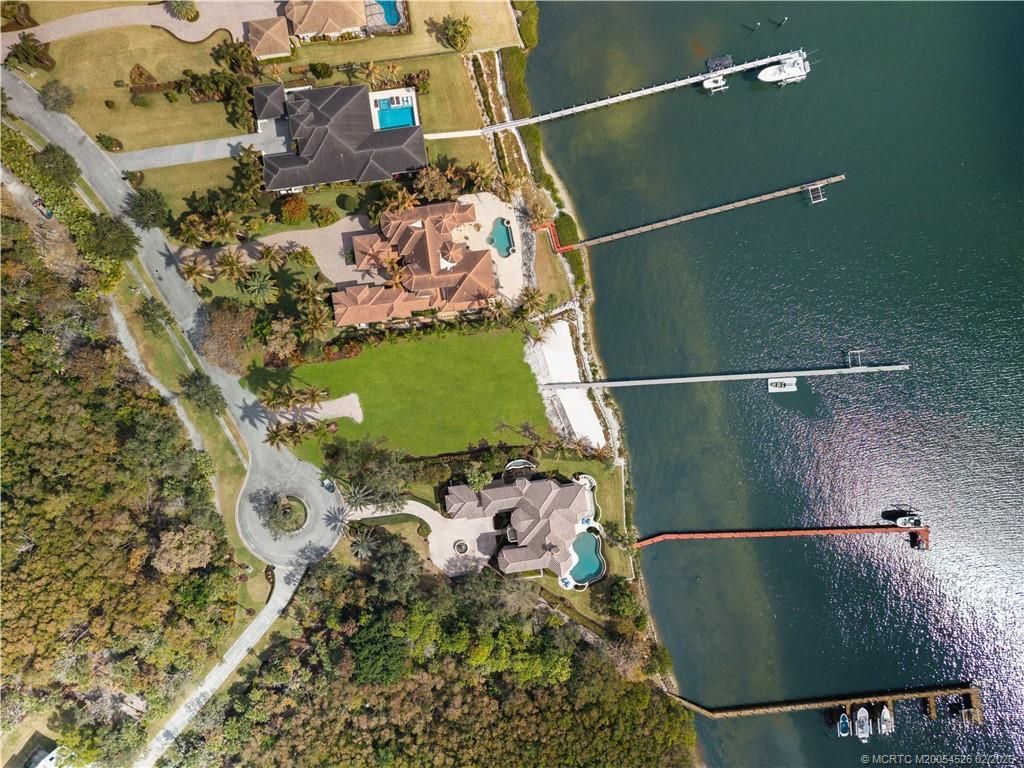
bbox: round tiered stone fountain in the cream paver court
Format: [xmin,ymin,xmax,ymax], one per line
[451,538,470,557]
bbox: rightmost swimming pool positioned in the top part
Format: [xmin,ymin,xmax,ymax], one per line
[484,211,517,260]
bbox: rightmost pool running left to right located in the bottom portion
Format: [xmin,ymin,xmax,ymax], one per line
[504,459,537,473]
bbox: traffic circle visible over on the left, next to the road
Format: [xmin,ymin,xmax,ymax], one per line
[260,494,308,536]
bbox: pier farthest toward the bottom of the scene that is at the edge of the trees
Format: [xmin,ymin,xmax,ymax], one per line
[662,681,985,723]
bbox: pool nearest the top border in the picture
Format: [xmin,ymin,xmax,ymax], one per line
[367,0,405,30]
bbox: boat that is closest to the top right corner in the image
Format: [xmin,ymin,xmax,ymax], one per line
[758,55,811,80]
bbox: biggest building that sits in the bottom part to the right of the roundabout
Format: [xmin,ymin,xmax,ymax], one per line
[445,472,588,579]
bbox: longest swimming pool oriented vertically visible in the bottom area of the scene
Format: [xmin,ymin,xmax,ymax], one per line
[556,473,608,593]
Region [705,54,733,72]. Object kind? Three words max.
pier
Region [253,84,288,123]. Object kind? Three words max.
house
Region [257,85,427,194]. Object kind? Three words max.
house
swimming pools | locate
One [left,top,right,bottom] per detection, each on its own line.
[556,473,608,593]
[369,87,420,131]
[484,211,517,260]
[504,459,537,473]
[367,0,405,30]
